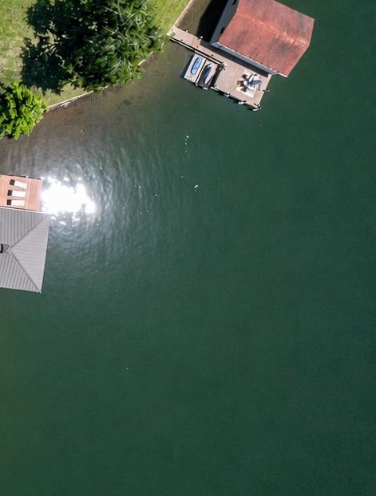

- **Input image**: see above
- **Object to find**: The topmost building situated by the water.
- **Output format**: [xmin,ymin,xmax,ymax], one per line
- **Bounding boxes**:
[202,0,314,77]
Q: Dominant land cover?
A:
water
